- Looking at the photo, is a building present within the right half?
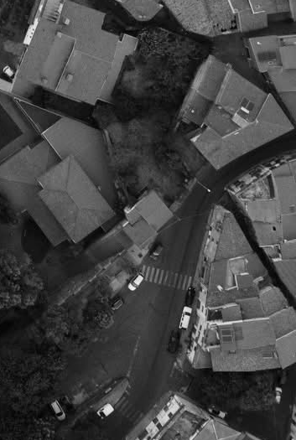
Yes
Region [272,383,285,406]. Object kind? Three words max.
vehicle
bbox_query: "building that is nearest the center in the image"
[119,185,175,247]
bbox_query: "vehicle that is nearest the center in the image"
[149,238,165,261]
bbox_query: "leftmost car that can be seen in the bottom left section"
[50,399,66,420]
